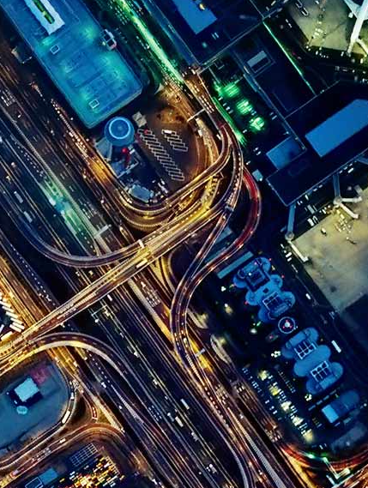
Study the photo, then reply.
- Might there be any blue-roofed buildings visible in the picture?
Yes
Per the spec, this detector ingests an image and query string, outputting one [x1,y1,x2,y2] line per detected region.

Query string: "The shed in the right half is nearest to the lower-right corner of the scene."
[332,423,368,450]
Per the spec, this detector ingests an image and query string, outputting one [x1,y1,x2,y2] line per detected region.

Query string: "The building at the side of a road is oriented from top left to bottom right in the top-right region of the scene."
[230,22,316,129]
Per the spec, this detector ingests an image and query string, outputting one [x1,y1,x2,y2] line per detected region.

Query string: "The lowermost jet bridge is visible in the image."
[290,239,311,265]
